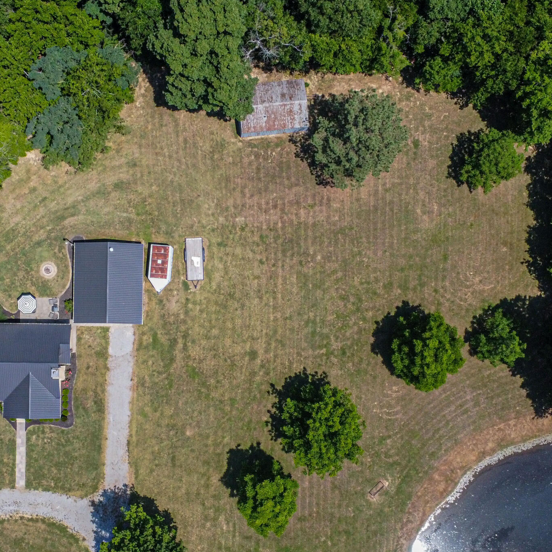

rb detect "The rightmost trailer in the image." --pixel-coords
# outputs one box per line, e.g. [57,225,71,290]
[184,236,205,290]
